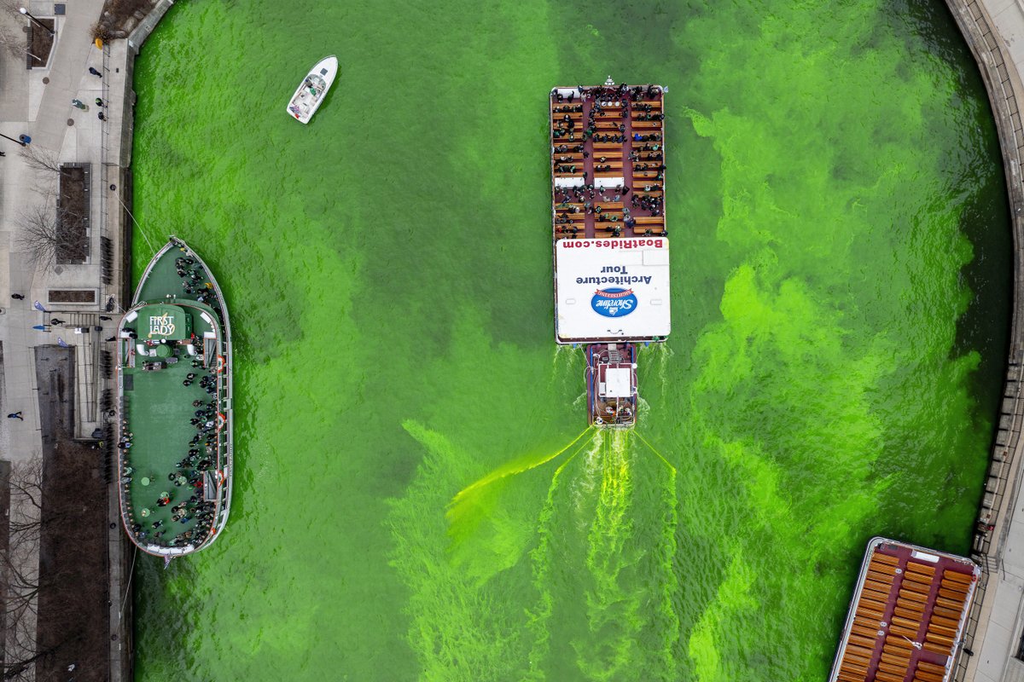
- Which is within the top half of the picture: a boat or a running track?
boat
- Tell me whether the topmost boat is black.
No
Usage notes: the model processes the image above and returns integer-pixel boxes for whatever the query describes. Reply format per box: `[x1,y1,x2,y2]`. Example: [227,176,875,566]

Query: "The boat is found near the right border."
[827,535,981,682]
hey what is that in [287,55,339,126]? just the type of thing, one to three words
boat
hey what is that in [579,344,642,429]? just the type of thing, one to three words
boat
